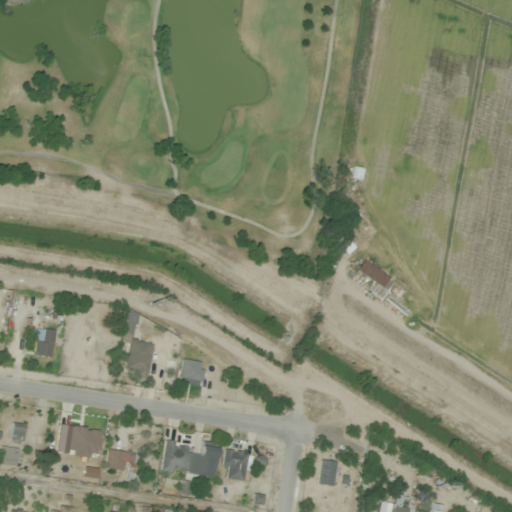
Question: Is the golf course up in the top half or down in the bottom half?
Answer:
top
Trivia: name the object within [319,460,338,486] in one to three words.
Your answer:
house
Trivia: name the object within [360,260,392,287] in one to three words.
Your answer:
barn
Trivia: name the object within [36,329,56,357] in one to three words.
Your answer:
house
